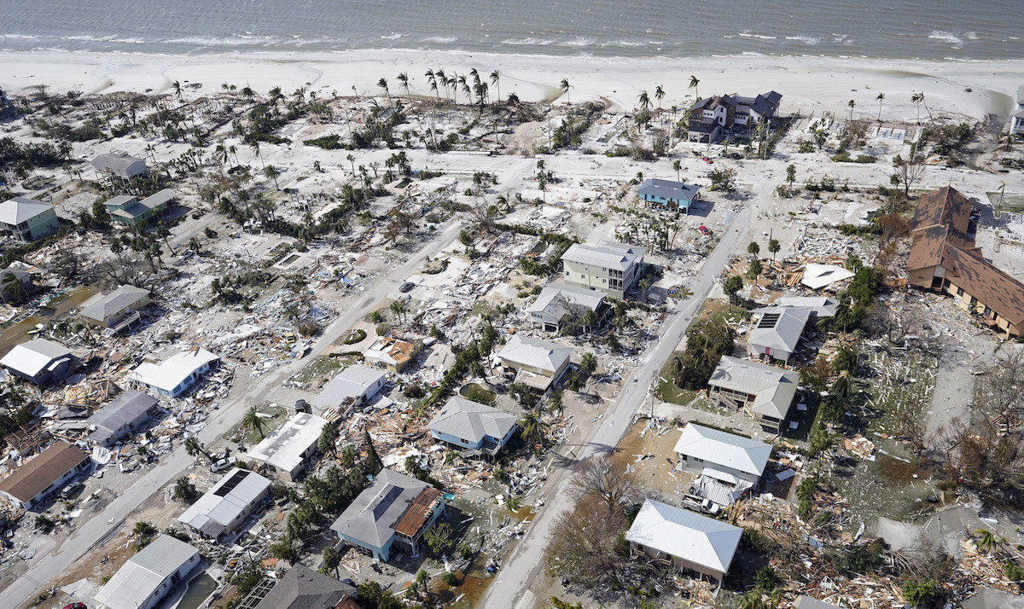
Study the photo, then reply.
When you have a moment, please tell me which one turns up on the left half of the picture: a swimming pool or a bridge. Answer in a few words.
swimming pool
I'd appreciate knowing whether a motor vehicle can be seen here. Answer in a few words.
Yes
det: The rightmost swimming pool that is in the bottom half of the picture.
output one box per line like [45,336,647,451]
[458,383,498,406]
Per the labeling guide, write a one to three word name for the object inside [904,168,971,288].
building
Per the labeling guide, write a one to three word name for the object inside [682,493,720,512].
vehicle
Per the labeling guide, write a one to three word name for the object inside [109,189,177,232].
house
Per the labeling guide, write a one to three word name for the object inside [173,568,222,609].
swimming pool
